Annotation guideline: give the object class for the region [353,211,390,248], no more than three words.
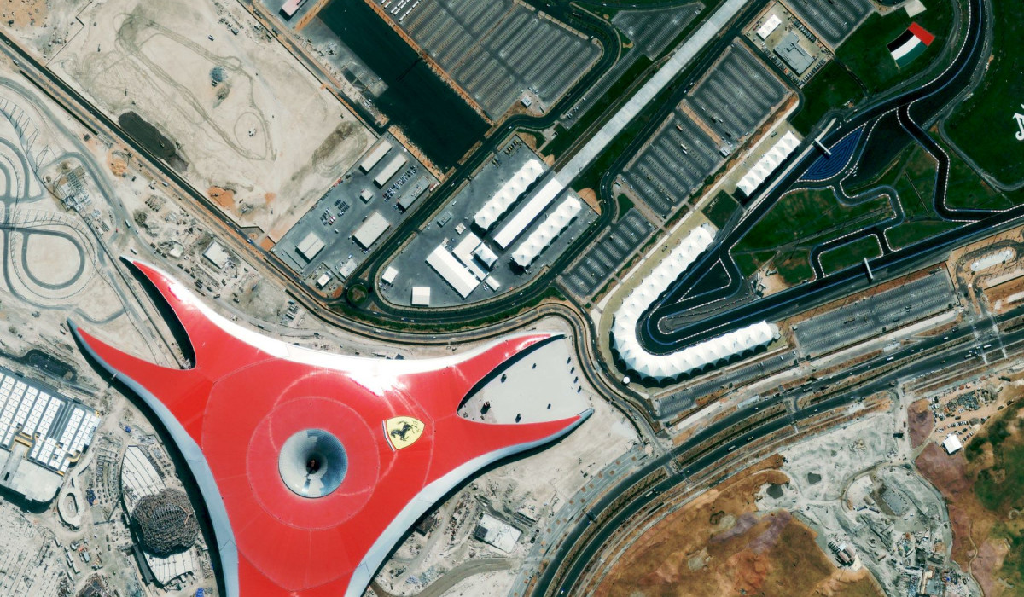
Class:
building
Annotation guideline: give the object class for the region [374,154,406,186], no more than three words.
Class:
shed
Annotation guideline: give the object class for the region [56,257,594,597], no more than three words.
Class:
building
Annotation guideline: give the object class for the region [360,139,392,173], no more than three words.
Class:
shed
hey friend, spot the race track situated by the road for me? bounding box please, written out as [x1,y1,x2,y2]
[635,0,1024,355]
